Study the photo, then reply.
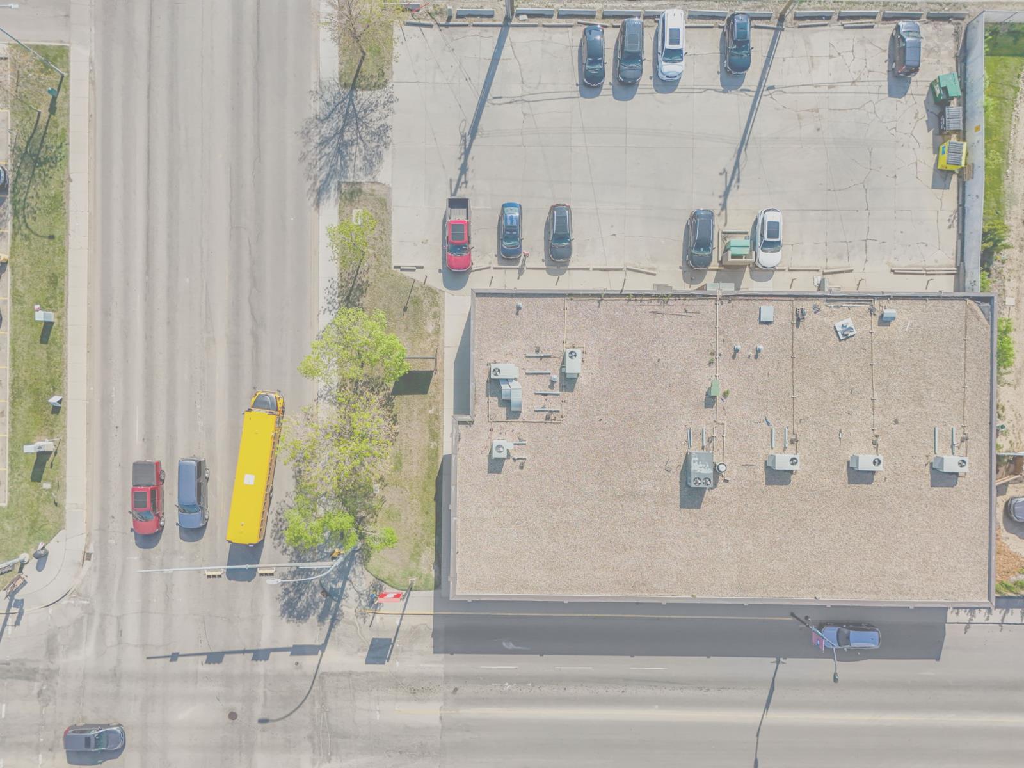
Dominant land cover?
paved ground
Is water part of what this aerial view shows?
No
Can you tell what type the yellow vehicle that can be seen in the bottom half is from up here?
bus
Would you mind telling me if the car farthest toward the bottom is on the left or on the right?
left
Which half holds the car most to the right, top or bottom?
bottom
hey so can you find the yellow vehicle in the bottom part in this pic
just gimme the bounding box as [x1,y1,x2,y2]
[225,387,291,545]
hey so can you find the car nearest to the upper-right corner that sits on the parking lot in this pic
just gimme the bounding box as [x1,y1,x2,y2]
[889,20,925,79]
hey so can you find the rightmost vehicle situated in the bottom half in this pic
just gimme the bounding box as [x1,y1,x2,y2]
[1001,496,1024,522]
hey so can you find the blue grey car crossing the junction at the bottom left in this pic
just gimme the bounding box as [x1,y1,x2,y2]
[63,719,130,754]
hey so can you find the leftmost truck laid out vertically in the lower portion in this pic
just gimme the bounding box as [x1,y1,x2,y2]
[130,458,167,535]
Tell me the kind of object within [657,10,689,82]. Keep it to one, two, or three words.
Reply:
car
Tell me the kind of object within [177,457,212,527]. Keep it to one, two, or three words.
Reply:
car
